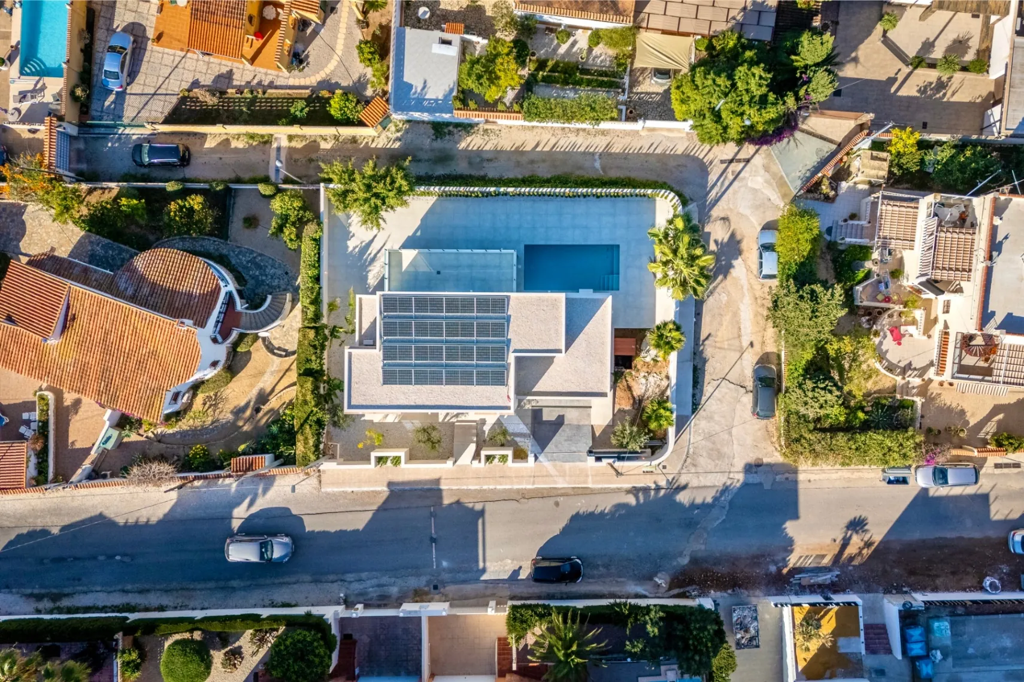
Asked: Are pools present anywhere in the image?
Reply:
Yes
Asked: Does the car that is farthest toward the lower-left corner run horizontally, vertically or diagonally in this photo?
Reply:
horizontally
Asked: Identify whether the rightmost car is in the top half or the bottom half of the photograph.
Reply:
bottom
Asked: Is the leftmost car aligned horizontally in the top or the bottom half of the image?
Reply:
top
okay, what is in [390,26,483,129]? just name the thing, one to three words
house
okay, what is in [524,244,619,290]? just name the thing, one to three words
swimming pool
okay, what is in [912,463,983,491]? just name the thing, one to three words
car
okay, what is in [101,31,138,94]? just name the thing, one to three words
car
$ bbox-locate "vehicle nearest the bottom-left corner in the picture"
[226,533,294,564]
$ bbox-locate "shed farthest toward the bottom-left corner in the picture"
[0,437,51,489]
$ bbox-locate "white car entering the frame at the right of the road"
[1004,527,1024,554]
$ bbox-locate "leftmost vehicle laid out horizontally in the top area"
[131,139,193,169]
